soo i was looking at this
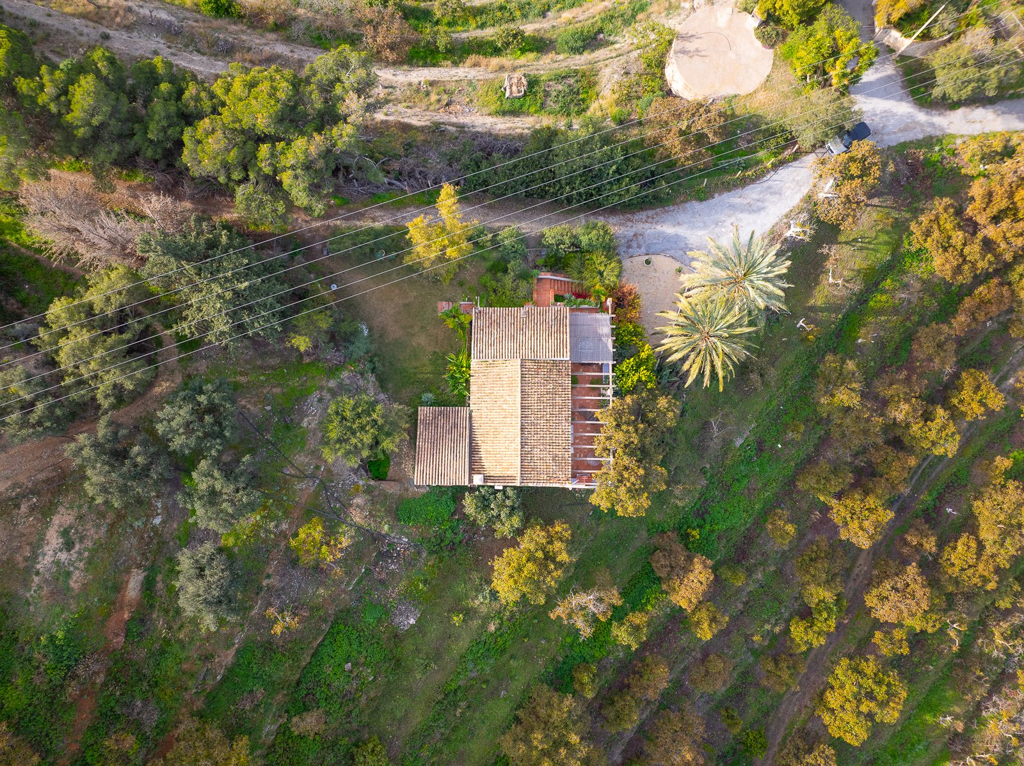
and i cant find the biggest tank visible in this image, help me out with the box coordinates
[670,5,774,102]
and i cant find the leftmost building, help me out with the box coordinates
[414,305,574,488]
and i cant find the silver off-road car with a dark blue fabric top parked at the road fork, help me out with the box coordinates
[823,119,874,158]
